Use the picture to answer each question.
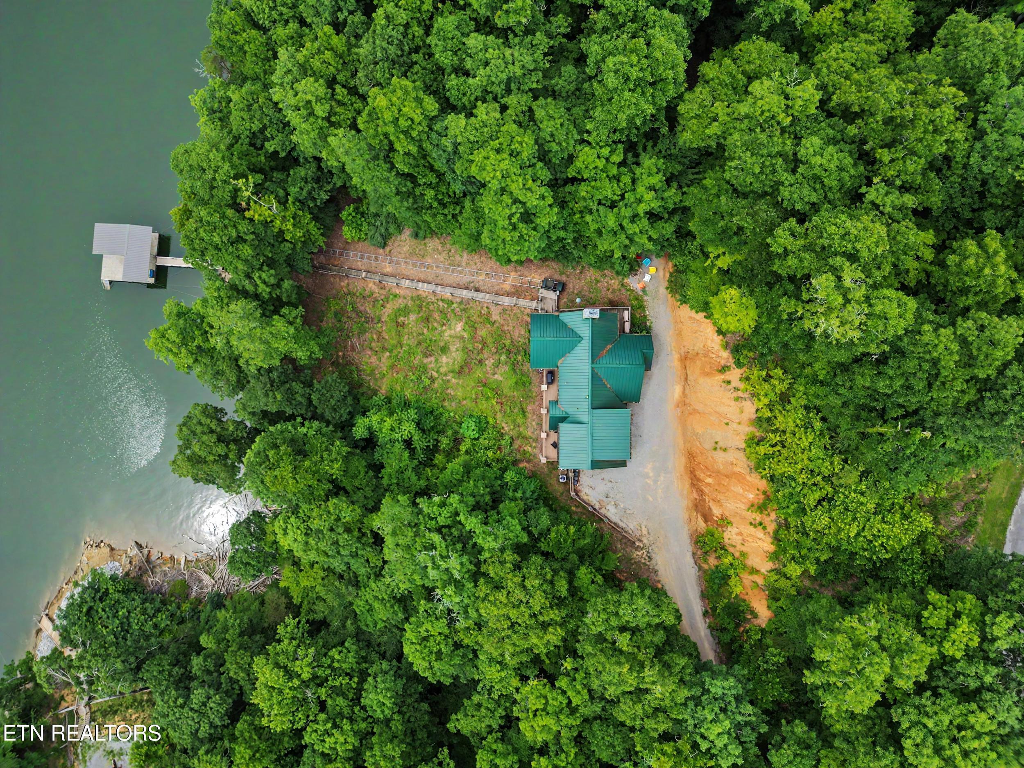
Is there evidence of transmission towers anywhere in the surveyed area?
No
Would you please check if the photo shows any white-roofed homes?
No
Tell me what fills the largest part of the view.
trees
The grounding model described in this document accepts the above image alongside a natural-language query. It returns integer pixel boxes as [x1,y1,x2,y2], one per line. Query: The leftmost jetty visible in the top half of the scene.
[92,223,161,285]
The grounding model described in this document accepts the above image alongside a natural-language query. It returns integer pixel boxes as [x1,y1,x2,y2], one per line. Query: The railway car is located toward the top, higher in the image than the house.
[541,277,562,292]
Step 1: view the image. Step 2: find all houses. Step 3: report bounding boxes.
[532,309,655,470]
